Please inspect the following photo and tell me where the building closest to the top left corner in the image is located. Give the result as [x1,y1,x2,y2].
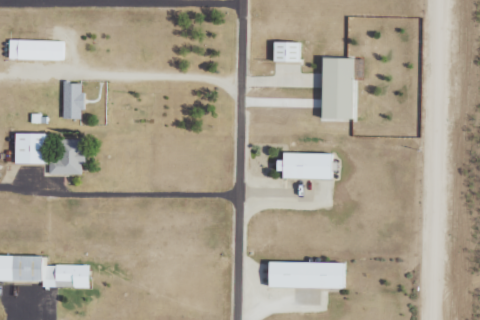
[8,40,65,61]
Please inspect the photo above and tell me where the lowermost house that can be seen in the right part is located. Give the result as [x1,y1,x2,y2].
[268,262,347,290]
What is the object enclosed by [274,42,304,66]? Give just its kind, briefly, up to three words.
building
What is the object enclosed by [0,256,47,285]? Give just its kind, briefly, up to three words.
hangar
